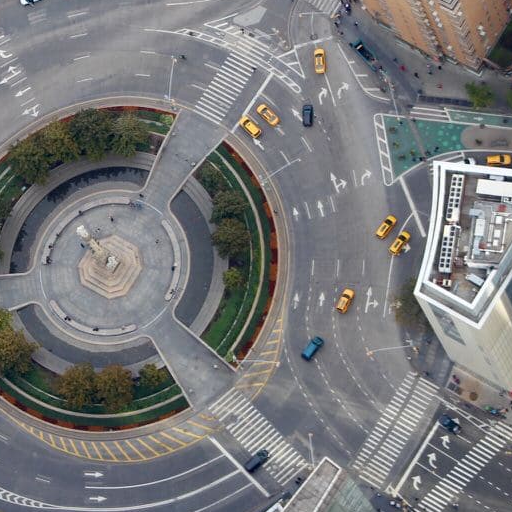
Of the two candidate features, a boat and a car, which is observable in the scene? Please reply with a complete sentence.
This aerial view contains a car.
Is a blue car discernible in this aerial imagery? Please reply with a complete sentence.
Yes, a blue car can be made out from above.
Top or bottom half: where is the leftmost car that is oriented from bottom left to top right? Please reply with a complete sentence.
It is in the bottom half that the leftmost car that is oriented from bottom left to top right appears.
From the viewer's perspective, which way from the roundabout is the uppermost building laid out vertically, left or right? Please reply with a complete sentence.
Relative to the roundabout, the uppermost building laid out vertically is on the right.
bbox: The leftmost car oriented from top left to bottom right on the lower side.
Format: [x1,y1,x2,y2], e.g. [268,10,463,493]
[437,413,462,435]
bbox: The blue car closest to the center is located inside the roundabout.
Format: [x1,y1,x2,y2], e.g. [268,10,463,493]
[298,334,325,361]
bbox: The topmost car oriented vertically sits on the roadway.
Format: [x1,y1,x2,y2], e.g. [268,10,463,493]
[312,46,325,73]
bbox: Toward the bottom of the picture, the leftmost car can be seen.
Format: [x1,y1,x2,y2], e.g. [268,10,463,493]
[242,446,270,473]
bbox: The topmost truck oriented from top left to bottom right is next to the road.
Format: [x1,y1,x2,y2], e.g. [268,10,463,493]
[348,37,381,68]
